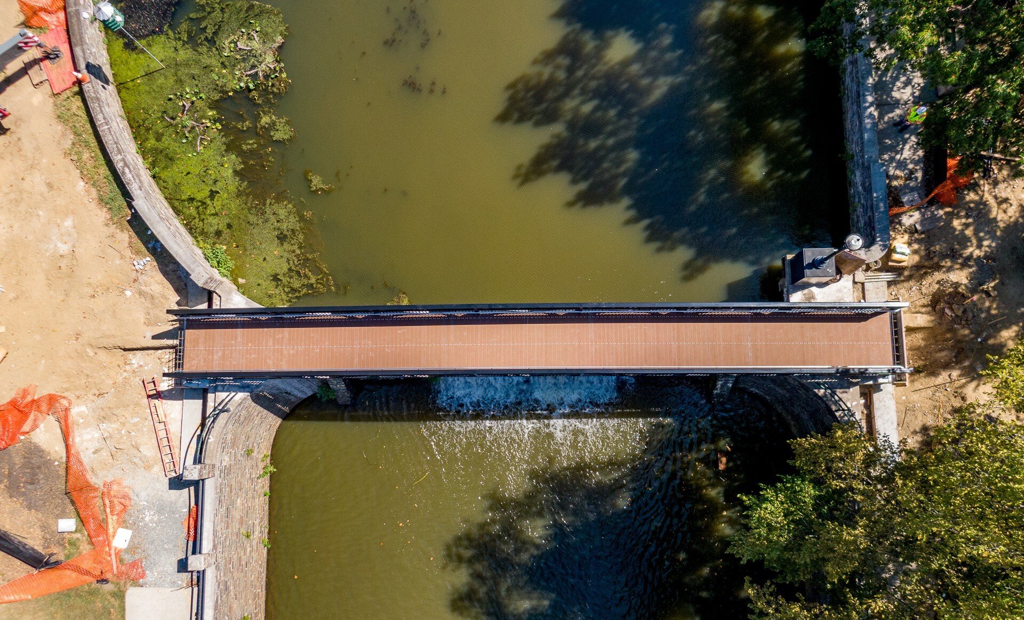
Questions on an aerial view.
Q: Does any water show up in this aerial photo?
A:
Yes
